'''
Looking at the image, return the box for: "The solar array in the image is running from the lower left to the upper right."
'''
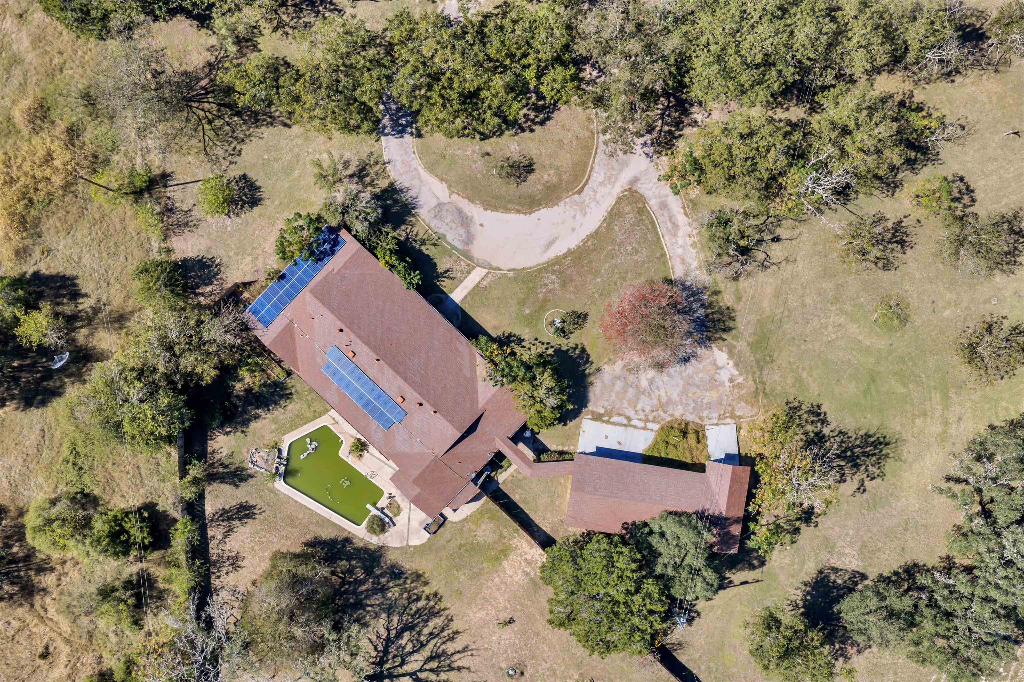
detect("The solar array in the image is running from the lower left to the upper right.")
[248,224,345,326]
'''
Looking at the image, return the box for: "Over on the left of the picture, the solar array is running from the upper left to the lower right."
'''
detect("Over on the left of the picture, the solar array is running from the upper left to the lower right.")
[321,345,406,431]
